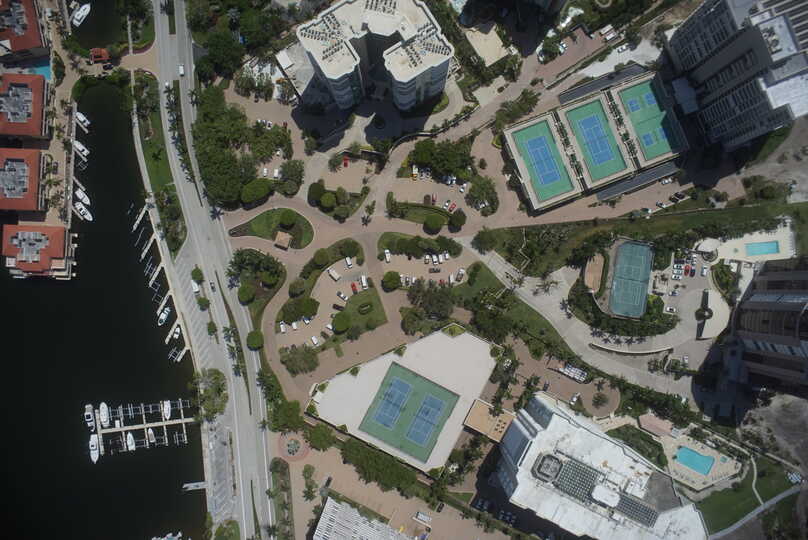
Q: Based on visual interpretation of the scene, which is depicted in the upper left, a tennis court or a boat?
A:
boat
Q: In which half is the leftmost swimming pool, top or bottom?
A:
top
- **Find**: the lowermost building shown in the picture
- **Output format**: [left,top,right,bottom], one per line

[313,493,423,540]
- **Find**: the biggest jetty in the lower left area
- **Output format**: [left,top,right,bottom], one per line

[94,398,197,456]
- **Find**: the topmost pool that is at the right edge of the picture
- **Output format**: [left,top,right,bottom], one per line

[705,214,796,264]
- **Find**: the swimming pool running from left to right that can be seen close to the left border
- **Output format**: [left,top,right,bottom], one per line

[0,60,53,81]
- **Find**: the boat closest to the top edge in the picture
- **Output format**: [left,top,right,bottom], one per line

[73,3,91,28]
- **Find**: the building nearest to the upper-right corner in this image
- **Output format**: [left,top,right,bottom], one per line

[667,0,808,148]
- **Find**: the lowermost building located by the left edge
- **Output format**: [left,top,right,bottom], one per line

[2,223,77,279]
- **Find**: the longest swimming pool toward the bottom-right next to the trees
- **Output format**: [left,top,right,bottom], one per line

[608,418,741,488]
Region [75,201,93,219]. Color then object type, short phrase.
white boat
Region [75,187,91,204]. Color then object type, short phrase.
white boat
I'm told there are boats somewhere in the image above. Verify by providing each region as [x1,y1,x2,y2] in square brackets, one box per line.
[159,306,171,324]
[128,433,136,452]
[164,399,171,419]
[85,403,95,429]
[75,187,91,204]
[153,533,182,540]
[73,3,91,28]
[99,403,109,429]
[76,141,91,155]
[77,114,92,127]
[149,428,155,443]
[89,433,99,463]
[75,201,93,219]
